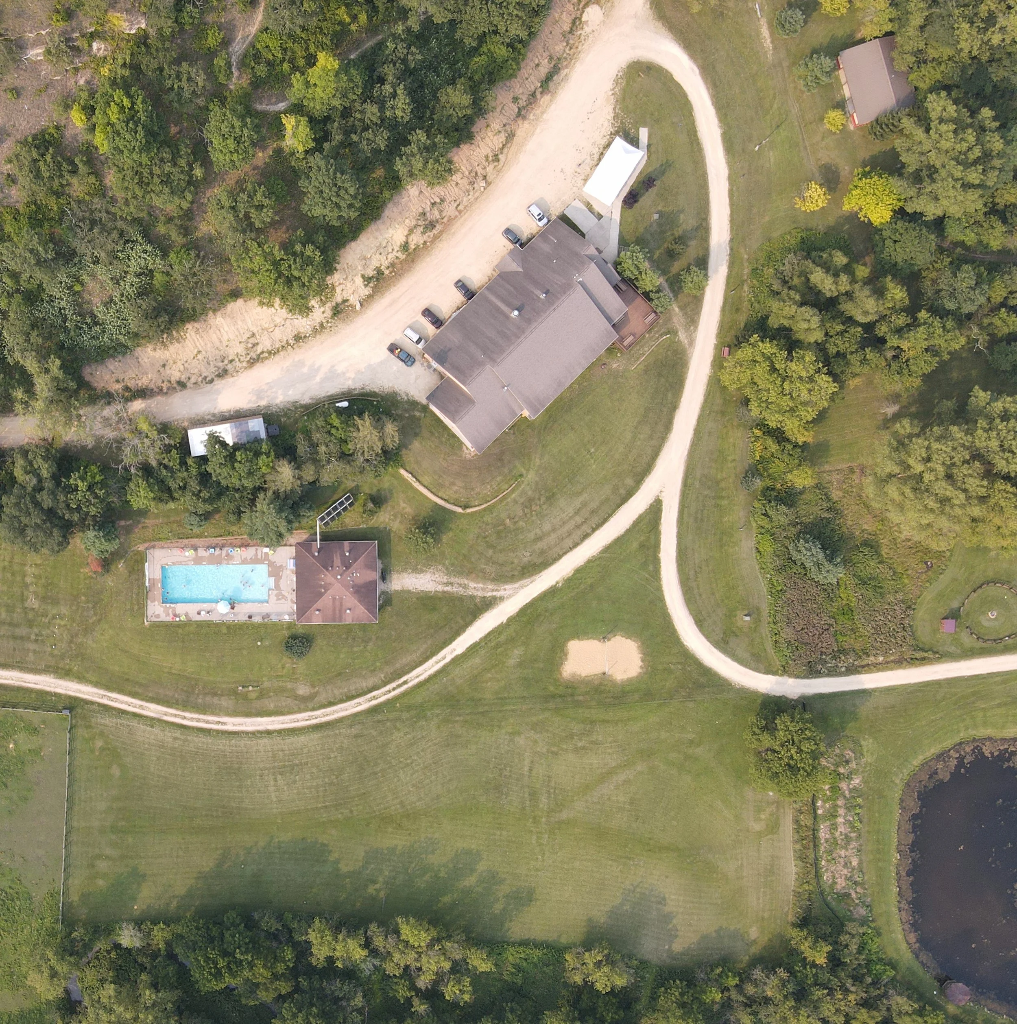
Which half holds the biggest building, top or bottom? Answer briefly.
top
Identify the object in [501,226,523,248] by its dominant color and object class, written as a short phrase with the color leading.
gray car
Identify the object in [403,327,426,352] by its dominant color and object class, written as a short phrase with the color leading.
white car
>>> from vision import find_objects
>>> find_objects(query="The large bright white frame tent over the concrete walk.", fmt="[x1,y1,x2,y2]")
[580,136,644,207]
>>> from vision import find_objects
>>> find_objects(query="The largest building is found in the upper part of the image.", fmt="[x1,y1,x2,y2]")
[422,216,628,454]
